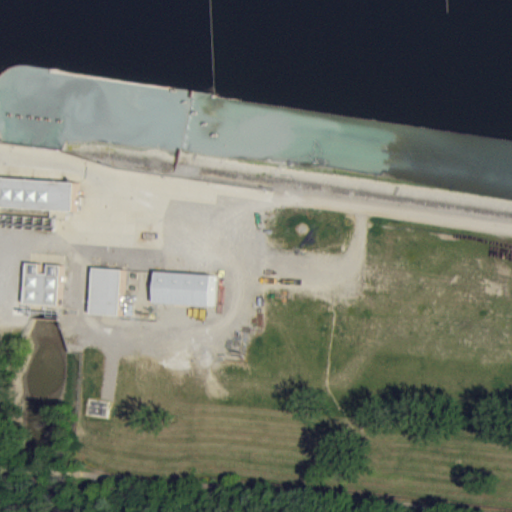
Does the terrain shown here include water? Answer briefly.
Yes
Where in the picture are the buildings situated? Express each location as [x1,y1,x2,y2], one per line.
[87,267,127,318]
[149,270,216,308]
[20,263,64,308]
[0,178,78,213]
